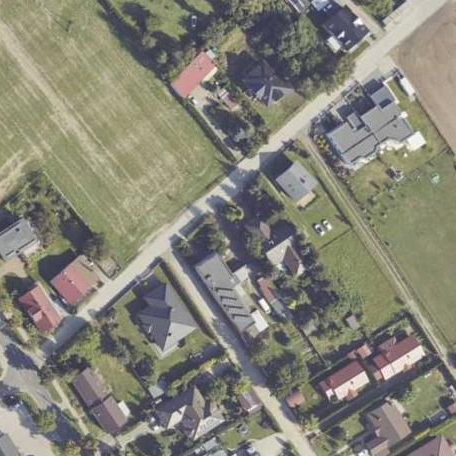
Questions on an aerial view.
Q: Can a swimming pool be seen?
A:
No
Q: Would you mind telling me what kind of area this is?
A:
residential area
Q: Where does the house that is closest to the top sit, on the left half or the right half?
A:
right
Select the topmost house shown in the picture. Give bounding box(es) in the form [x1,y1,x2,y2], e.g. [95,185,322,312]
[311,0,371,52]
